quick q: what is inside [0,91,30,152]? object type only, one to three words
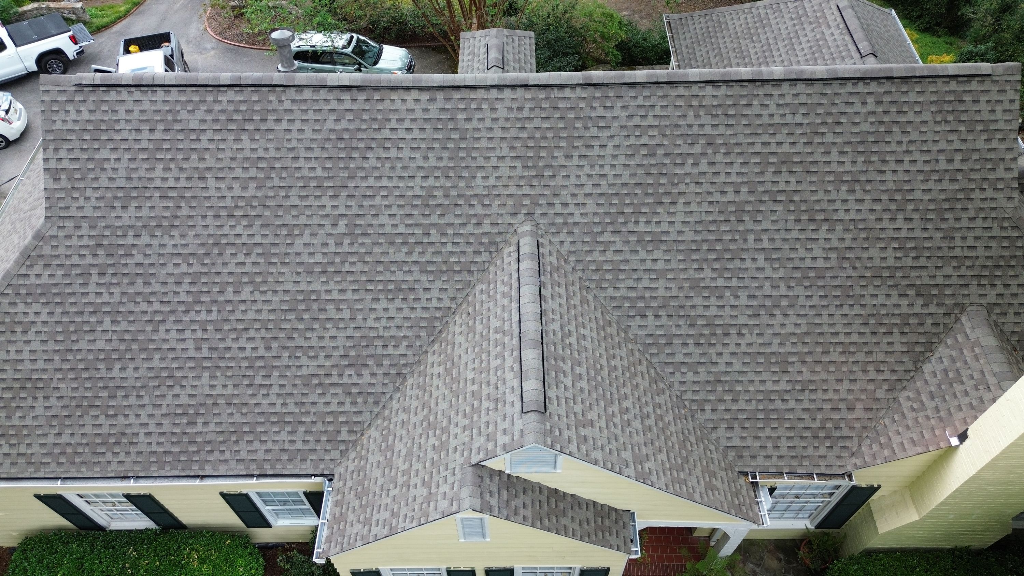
car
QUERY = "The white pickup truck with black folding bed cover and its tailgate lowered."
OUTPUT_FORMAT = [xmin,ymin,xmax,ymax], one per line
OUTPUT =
[0,5,94,88]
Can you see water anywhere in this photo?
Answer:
No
